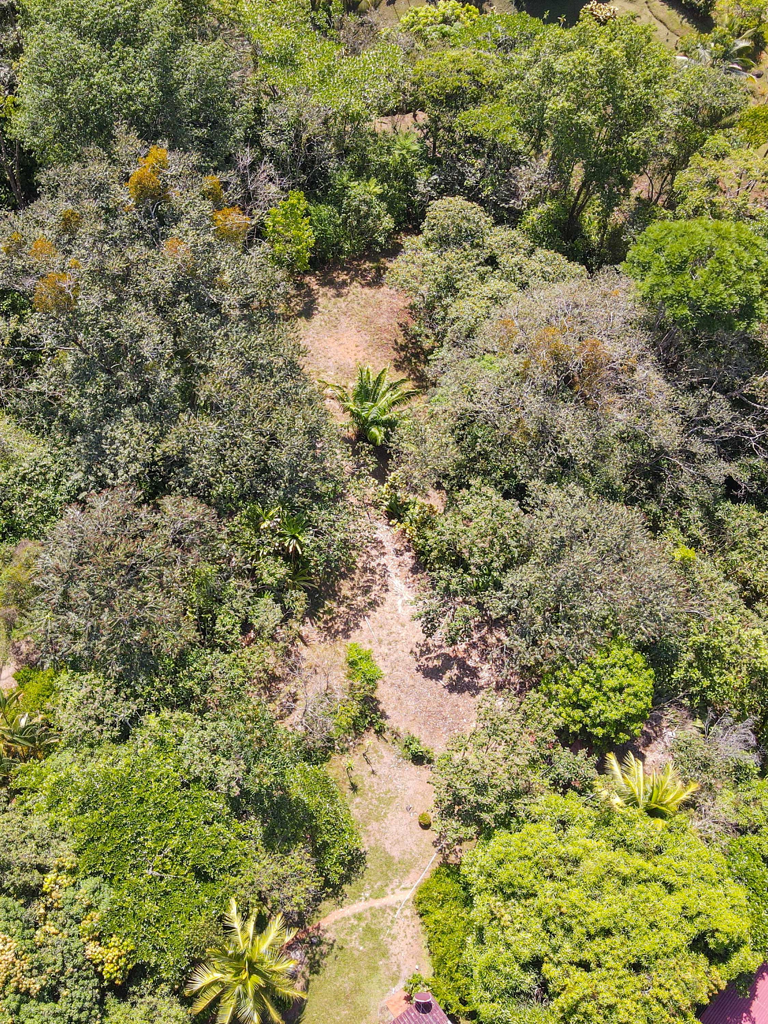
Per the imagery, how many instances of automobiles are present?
0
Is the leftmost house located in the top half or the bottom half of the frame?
bottom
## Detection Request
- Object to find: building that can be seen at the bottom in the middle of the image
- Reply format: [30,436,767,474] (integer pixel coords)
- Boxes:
[393,992,451,1024]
